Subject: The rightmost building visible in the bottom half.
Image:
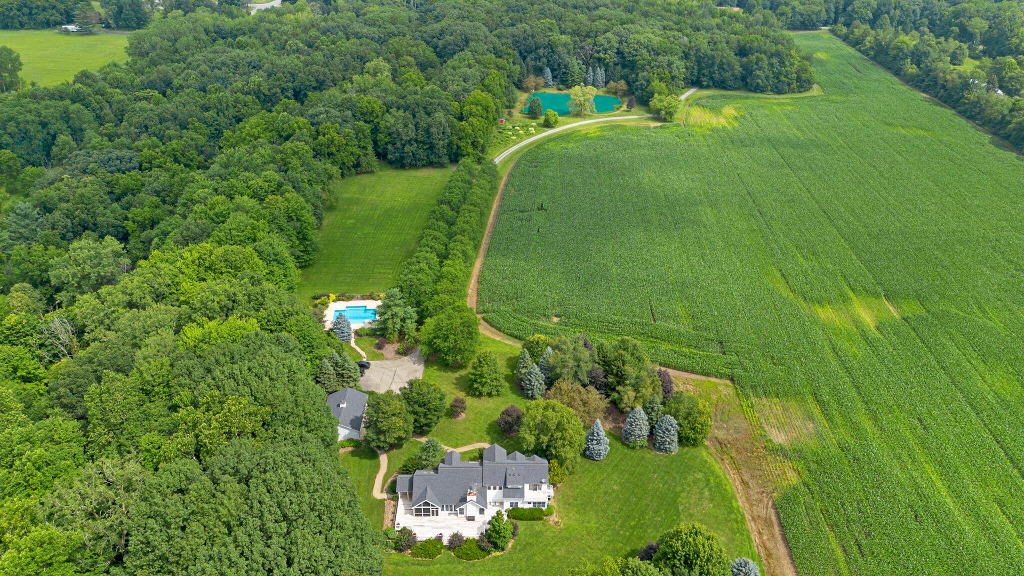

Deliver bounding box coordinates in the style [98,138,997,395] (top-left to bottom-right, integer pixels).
[394,442,556,545]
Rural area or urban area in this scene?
rural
